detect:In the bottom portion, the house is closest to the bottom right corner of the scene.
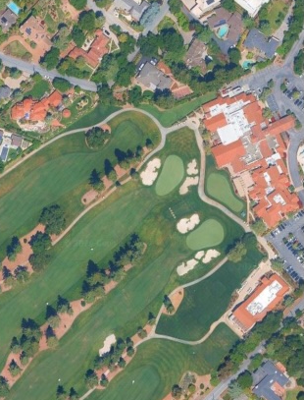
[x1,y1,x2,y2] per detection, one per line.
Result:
[249,358,289,400]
